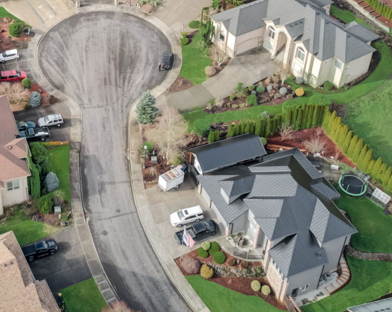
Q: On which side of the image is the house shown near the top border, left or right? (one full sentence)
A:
The house shown near the top border is on the right side of the image.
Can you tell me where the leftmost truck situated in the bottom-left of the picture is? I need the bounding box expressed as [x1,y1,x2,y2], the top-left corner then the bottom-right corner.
[20,234,61,257]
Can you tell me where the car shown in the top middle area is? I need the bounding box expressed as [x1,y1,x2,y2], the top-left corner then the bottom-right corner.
[161,50,173,69]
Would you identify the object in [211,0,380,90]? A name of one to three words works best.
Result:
house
